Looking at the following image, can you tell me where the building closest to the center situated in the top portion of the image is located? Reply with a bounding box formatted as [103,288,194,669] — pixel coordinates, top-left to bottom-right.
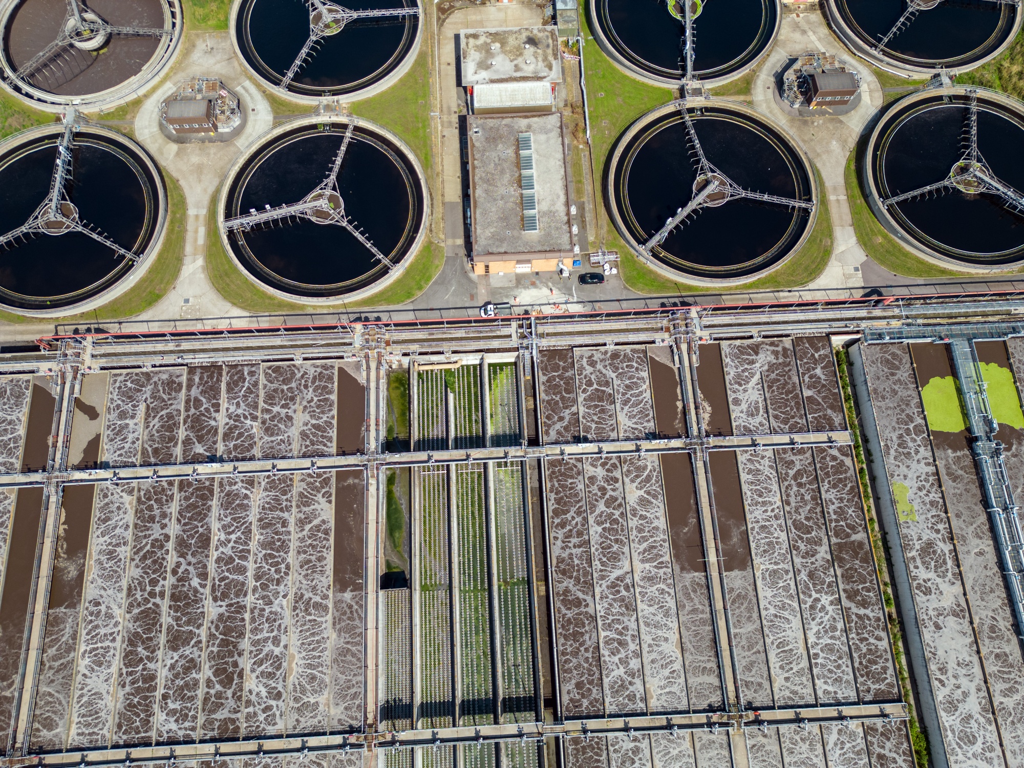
[468,112,574,274]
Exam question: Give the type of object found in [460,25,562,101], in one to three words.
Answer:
house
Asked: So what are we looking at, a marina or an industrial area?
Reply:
industrial area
